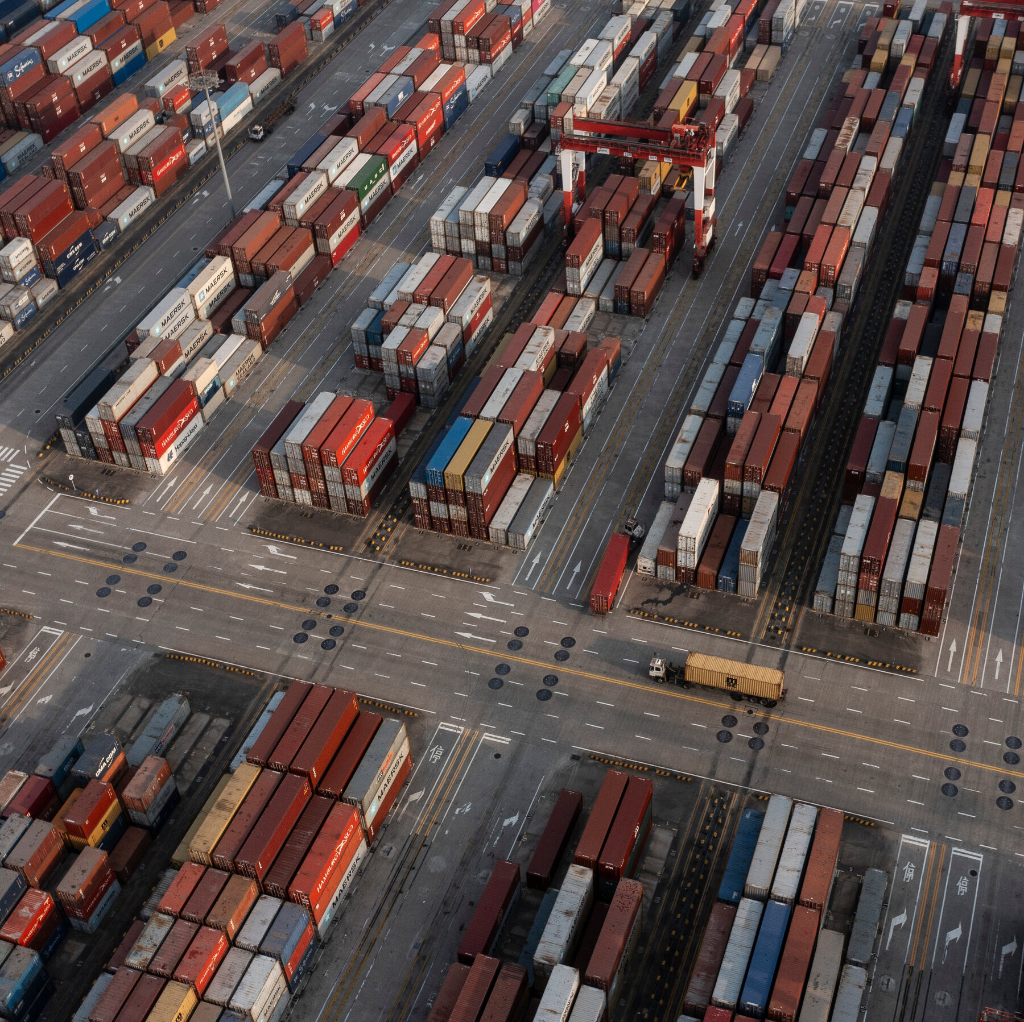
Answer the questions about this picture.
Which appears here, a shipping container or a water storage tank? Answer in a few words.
shipping container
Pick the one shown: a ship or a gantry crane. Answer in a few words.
gantry crane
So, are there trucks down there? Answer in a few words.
Yes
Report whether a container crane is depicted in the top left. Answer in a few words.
No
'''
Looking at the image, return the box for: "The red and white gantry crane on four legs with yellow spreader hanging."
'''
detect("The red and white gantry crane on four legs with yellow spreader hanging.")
[553,108,724,276]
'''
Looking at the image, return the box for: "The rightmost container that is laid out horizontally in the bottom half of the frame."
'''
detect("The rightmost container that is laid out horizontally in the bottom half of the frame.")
[686,651,785,701]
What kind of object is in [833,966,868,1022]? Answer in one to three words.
shipping container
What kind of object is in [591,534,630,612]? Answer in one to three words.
shipping container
